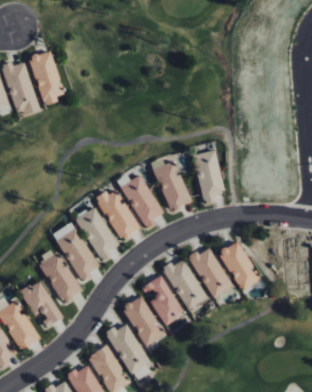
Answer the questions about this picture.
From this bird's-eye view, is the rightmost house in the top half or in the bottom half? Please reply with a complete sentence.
You can find the rightmost house in the bottom half.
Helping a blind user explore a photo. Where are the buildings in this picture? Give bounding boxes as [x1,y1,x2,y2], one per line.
[124,296,165,346]
[108,323,153,381]
[166,259,210,311]
[154,161,192,210]
[29,52,66,104]
[40,250,84,303]
[0,76,12,116]
[0,298,42,350]
[78,208,120,258]
[53,222,100,280]
[190,247,234,299]
[117,174,164,224]
[195,144,226,200]
[22,282,63,328]
[99,188,142,240]
[220,240,262,291]
[0,326,18,366]
[90,346,131,392]
[2,59,42,114]
[68,365,104,392]
[144,277,186,326]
